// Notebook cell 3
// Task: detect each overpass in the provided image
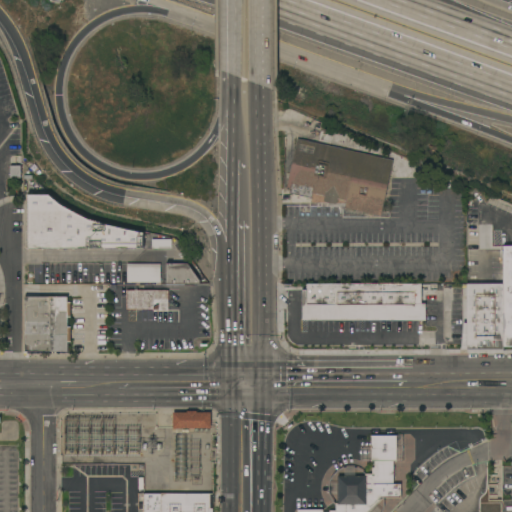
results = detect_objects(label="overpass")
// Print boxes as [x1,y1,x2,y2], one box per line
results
[216,0,278,92]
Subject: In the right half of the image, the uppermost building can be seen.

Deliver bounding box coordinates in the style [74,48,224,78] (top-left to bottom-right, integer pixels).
[288,138,392,217]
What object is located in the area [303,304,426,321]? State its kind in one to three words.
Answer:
building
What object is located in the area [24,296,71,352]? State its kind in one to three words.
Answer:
building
